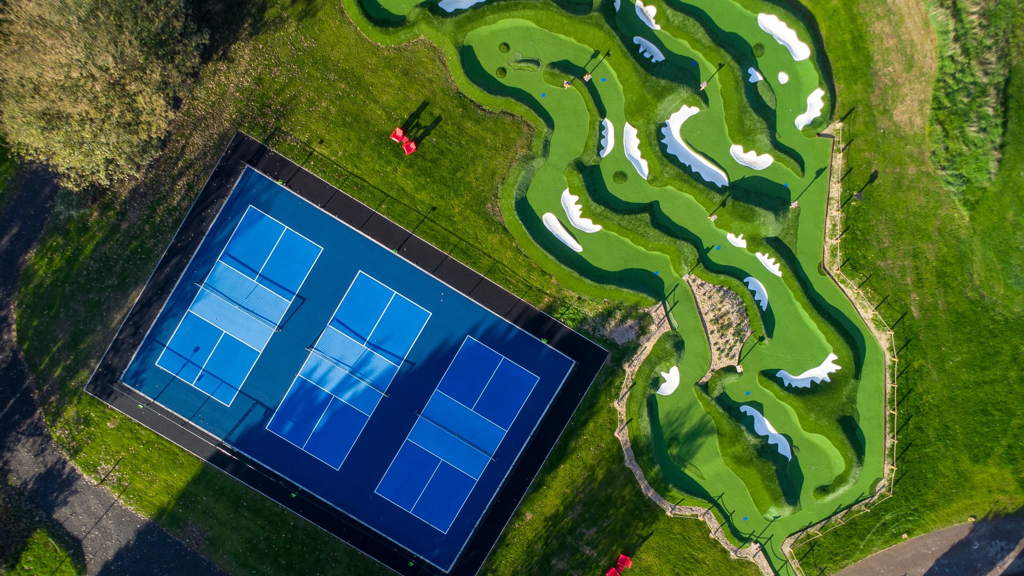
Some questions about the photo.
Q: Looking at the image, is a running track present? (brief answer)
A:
No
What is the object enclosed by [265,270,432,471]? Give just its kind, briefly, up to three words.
sports court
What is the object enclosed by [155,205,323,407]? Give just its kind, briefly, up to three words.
sports court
